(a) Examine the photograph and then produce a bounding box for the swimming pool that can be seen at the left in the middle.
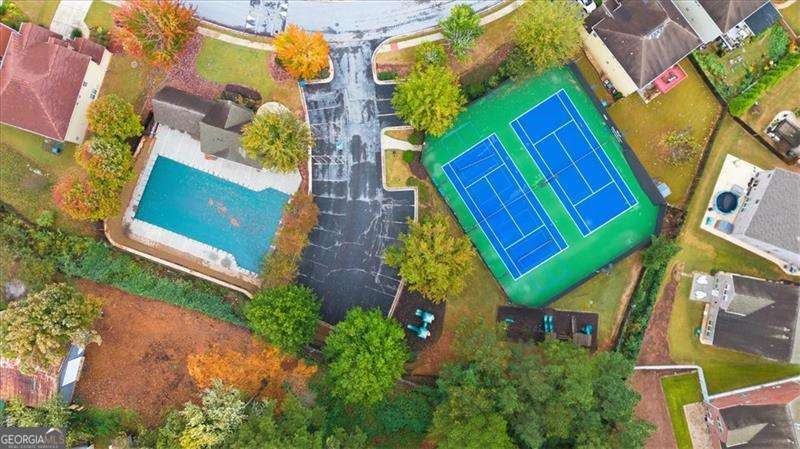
[132,155,293,277]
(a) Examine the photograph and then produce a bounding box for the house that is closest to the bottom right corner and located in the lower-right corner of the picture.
[703,395,796,449]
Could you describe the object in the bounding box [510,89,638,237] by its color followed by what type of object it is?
blue tennis court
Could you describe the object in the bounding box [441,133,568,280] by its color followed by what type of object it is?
blue tennis court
